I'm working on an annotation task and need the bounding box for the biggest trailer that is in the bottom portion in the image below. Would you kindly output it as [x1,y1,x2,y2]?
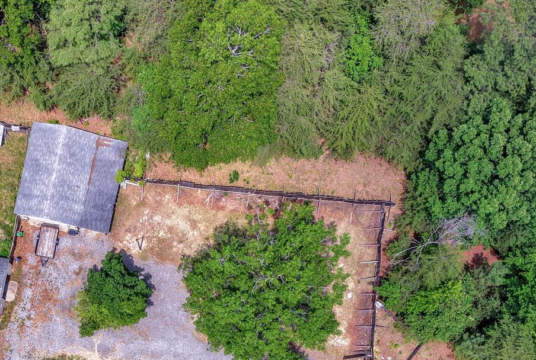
[34,221,60,268]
